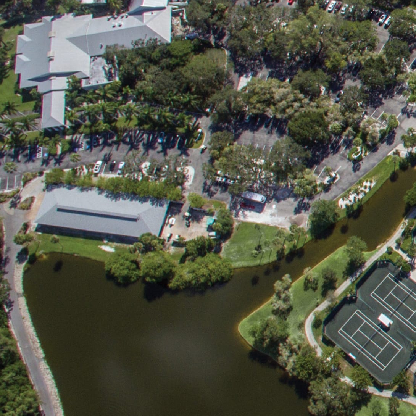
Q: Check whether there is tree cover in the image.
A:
Yes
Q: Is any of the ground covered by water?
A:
Yes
